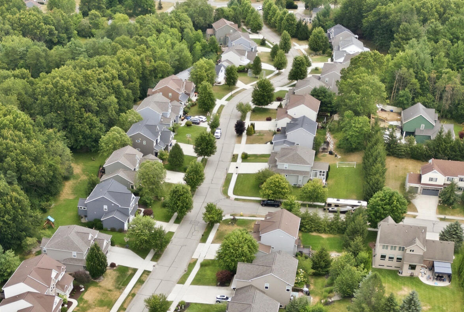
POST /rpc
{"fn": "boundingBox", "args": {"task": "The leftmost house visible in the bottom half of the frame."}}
[0,251,75,312]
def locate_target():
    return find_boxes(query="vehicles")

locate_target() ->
[214,294,233,303]
[196,115,208,123]
[261,198,282,208]
[187,116,202,125]
[325,197,369,213]
[215,129,222,137]
[182,113,194,119]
